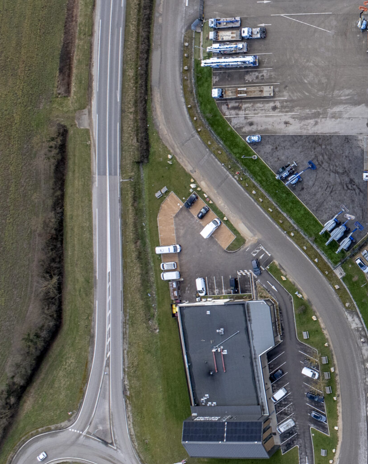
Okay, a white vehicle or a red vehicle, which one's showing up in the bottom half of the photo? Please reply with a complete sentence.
Looking in the bottom half of the photo, you will find a white vehicle.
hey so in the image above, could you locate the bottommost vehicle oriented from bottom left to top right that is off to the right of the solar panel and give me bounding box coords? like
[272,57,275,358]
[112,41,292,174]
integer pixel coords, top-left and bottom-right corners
[277,418,296,434]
